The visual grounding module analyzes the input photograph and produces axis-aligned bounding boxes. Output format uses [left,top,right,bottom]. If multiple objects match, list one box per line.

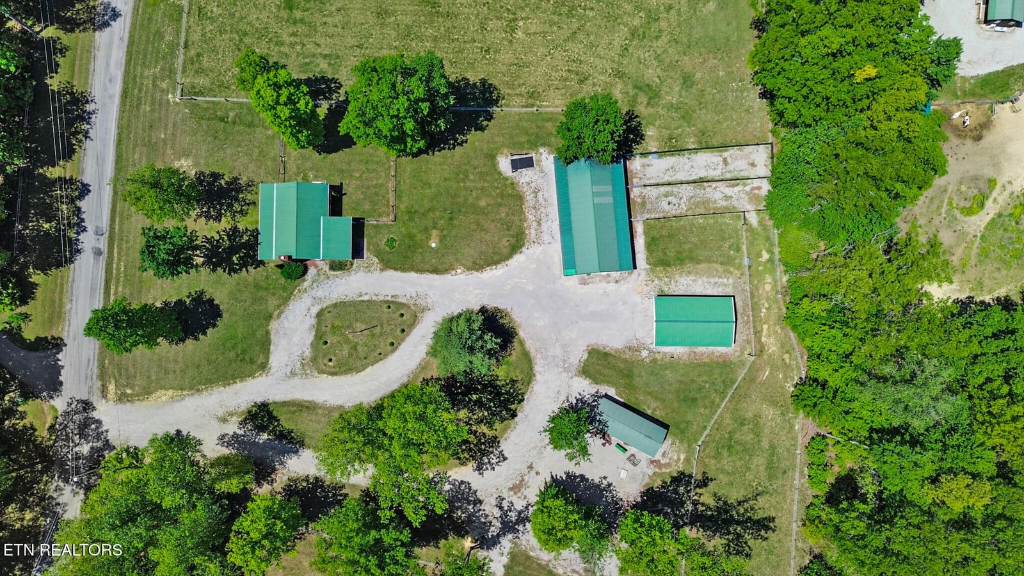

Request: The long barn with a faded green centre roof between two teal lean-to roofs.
[554,150,633,276]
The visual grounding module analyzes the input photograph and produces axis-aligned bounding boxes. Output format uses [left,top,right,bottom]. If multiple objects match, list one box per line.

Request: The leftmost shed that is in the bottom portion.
[588,398,668,457]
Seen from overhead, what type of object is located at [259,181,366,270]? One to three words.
building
